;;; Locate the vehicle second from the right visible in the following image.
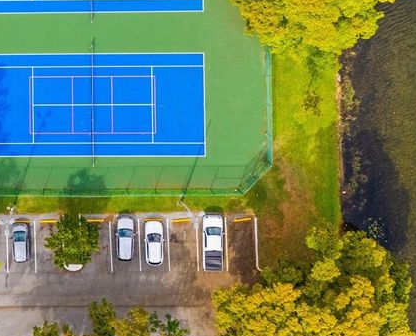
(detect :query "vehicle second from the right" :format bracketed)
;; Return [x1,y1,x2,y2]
[144,219,166,266]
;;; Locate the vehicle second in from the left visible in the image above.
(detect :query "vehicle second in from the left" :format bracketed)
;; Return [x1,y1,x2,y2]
[115,215,136,262]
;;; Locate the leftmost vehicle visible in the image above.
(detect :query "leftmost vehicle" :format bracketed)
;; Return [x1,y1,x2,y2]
[10,220,31,263]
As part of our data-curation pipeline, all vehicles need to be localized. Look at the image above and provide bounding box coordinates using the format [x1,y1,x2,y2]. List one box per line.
[115,215,136,262]
[201,213,225,271]
[10,220,31,263]
[144,219,166,266]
